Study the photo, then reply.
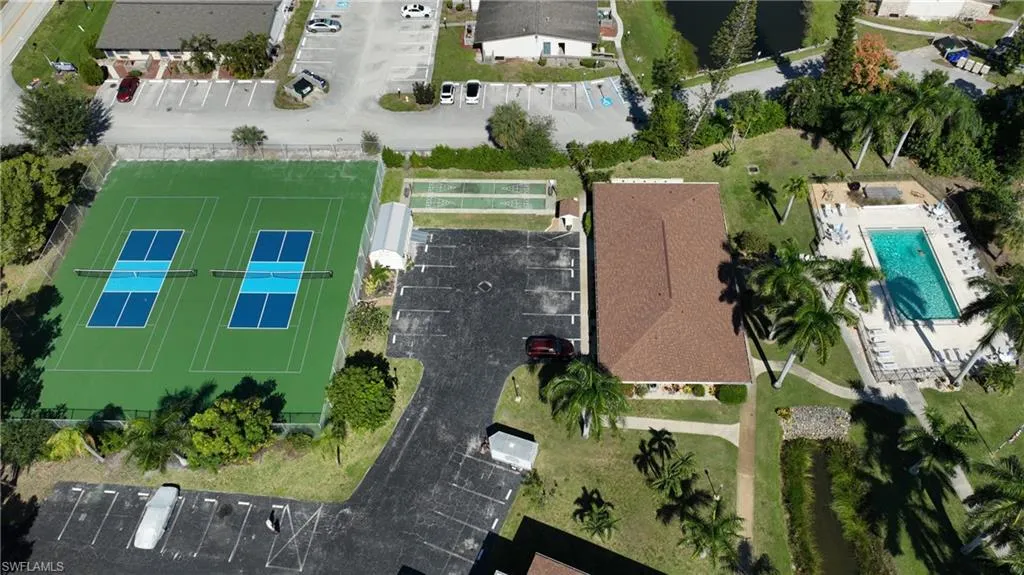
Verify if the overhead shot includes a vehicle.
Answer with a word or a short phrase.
Yes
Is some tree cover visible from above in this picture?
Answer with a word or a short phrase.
Yes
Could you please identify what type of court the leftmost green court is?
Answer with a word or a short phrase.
tennis court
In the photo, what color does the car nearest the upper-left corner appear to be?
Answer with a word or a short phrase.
red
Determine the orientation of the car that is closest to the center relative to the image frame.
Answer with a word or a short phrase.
from side to side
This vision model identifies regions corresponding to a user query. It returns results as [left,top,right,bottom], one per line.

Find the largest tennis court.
[1,160,379,450]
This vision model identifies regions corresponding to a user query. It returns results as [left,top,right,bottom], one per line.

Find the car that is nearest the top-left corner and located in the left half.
[116,75,137,100]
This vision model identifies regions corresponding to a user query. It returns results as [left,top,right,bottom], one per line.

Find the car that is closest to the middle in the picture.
[526,335,575,361]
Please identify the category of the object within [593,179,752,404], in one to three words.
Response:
building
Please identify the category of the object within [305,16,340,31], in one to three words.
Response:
car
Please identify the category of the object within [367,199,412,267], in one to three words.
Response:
shed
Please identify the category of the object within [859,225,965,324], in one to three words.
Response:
swimming pool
